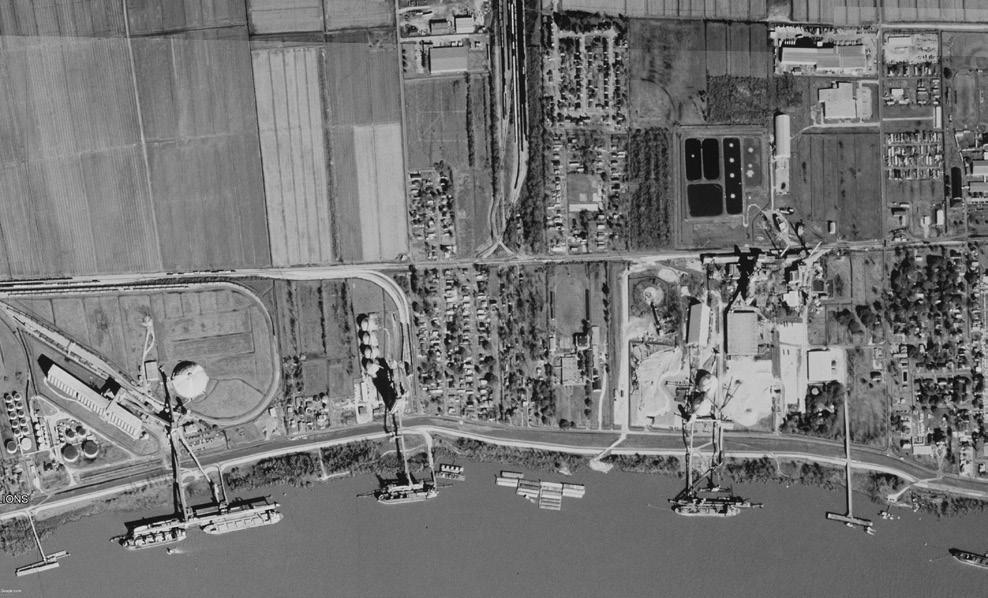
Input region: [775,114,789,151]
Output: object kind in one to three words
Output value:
barn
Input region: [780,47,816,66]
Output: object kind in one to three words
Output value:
building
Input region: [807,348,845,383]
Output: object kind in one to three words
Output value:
building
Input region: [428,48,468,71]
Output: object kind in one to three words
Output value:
barn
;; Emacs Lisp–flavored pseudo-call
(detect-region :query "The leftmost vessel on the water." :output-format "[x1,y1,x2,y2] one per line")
[14,561,61,578]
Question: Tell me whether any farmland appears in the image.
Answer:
Yes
